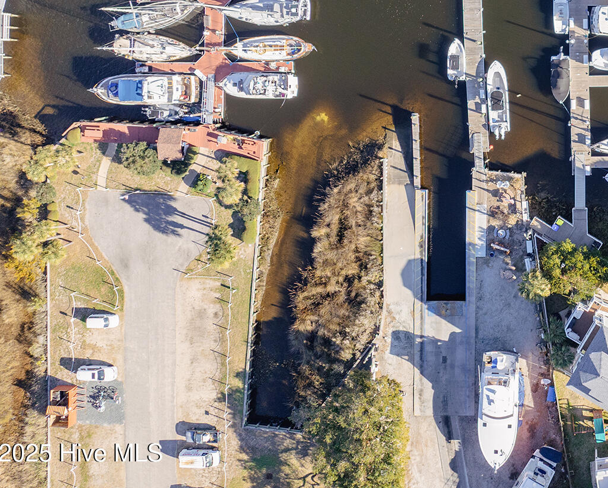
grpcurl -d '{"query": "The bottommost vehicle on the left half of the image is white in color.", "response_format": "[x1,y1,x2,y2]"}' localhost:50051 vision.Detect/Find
[173,449,221,473]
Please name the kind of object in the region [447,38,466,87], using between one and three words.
boat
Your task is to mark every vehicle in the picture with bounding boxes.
[185,428,221,449]
[173,449,221,473]
[73,364,118,385]
[82,312,119,332]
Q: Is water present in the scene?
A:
Yes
